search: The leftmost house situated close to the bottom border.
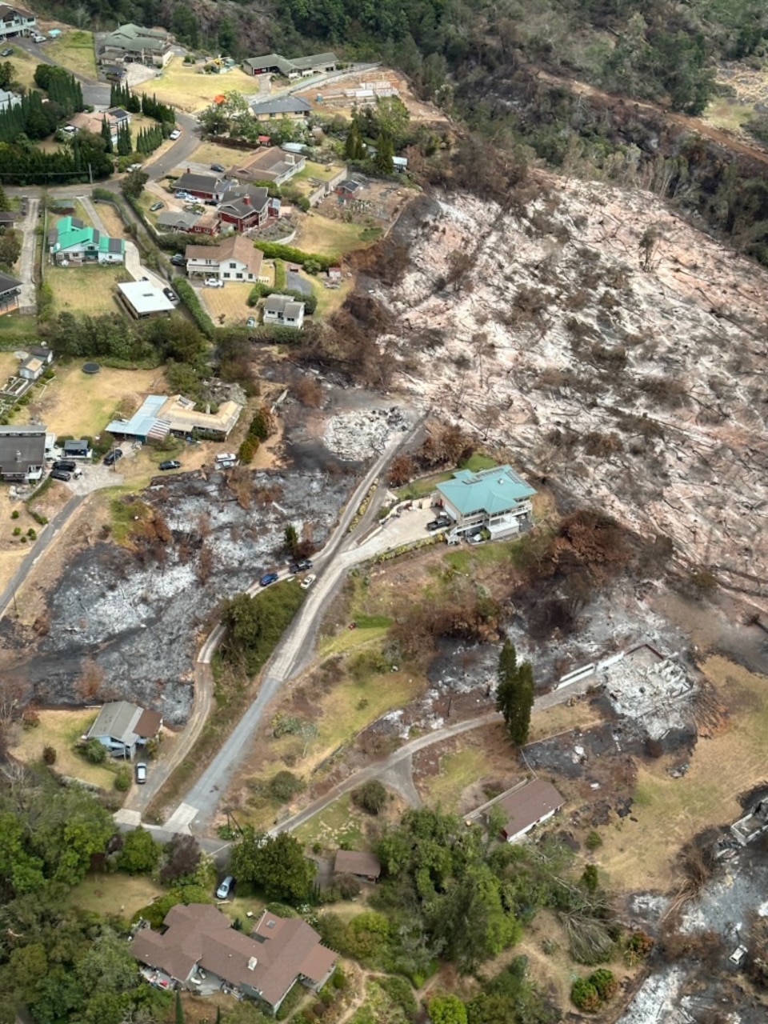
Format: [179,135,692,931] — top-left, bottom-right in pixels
[121,889,338,1012]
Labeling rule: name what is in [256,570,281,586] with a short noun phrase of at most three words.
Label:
car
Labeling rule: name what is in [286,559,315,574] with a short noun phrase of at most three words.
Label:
vehicle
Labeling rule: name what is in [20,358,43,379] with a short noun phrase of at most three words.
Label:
building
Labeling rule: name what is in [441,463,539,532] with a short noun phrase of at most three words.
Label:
house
